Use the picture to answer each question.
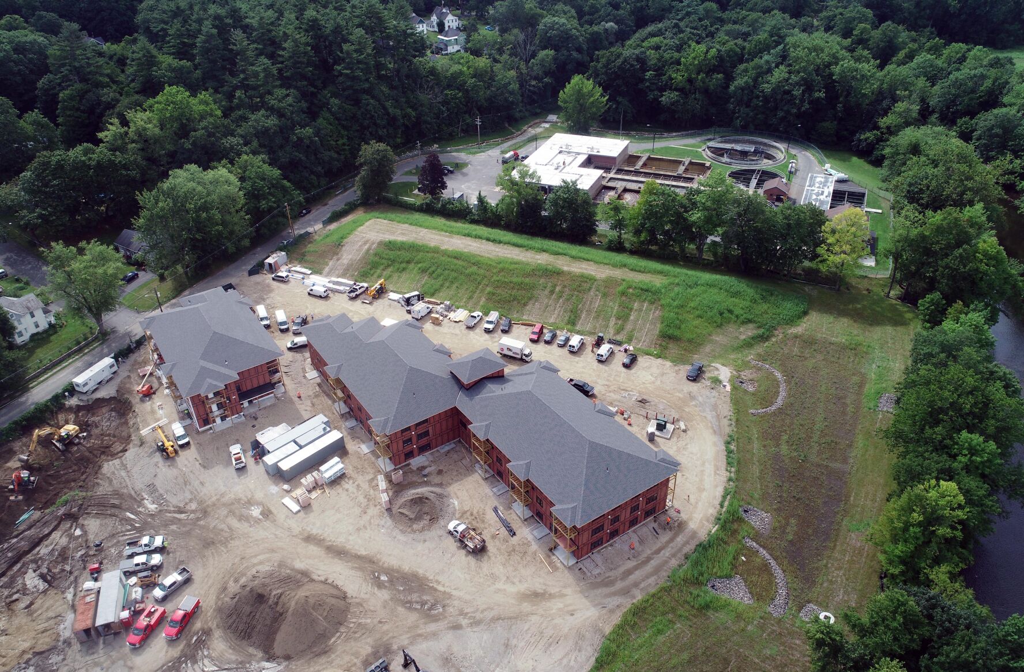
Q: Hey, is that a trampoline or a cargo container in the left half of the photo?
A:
cargo container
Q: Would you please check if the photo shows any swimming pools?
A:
No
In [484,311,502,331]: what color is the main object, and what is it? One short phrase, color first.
white vehicle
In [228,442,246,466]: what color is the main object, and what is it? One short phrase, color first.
white vehicle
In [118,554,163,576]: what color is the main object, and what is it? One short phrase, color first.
white truck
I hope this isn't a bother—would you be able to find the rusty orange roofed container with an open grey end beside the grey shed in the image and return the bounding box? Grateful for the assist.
[74,592,100,644]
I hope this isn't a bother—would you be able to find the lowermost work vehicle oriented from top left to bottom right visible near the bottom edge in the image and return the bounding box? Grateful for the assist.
[394,647,429,672]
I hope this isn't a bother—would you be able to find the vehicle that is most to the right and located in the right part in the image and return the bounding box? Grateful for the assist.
[686,360,706,380]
